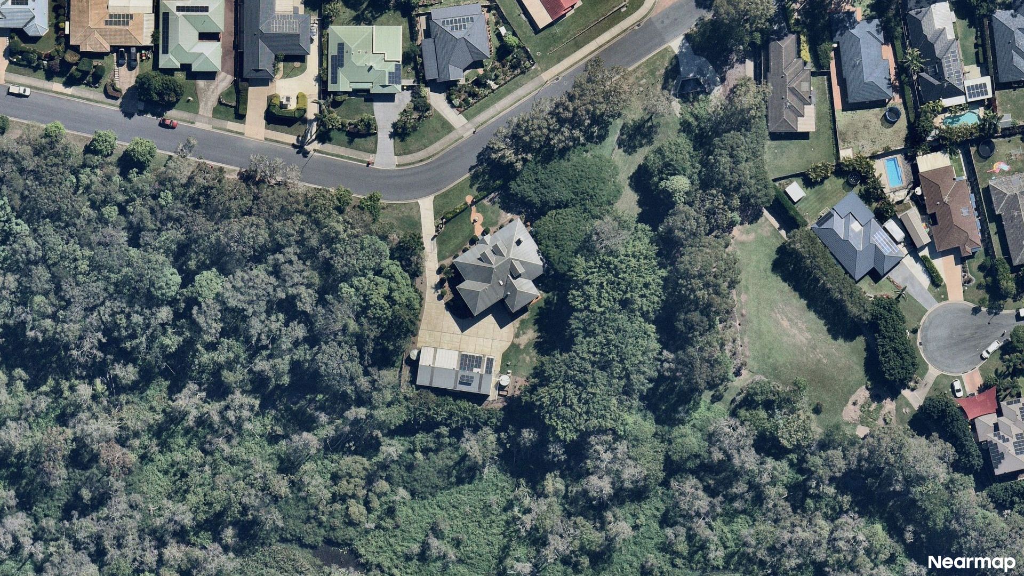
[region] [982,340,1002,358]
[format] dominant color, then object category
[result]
white car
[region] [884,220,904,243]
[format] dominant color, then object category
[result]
white camper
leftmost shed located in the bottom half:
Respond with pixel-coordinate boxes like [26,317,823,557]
[417,345,496,396]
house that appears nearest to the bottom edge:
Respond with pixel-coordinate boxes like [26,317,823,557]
[974,397,1024,475]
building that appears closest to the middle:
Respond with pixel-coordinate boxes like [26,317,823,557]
[453,219,542,316]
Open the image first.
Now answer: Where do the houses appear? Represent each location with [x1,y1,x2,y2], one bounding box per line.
[769,38,816,132]
[520,0,582,29]
[421,3,490,84]
[159,0,224,71]
[328,25,402,93]
[992,12,1024,96]
[989,172,1024,263]
[917,151,984,257]
[0,0,48,36]
[906,1,994,107]
[811,191,906,280]
[453,219,542,316]
[836,18,896,102]
[974,397,1024,475]
[69,0,154,51]
[243,0,310,78]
